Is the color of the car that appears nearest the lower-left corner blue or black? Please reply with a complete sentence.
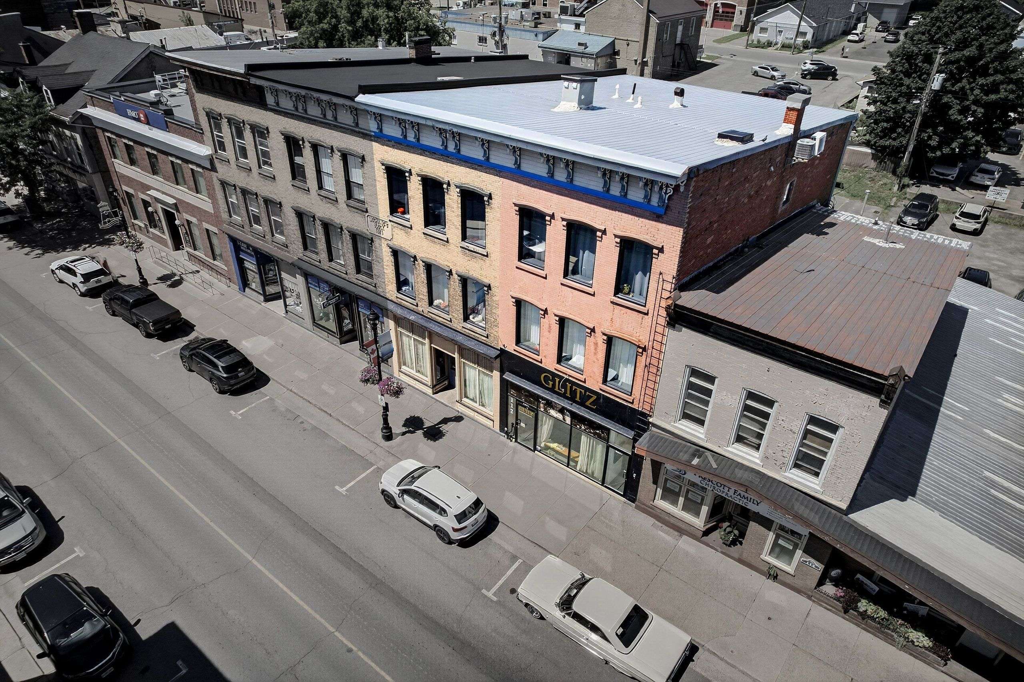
In this view, the car that appears nearest the lower-left corner is black.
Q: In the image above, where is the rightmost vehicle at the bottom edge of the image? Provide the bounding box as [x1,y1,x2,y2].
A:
[517,555,695,682]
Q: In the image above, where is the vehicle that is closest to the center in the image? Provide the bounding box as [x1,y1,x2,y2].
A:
[379,460,489,545]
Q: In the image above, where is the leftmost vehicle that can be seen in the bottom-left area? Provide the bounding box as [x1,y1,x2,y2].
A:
[0,473,53,570]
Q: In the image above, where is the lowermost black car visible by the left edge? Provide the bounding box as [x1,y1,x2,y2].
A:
[10,565,142,682]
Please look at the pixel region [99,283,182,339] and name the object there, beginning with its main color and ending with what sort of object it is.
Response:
black truck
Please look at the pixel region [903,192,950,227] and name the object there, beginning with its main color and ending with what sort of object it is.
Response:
black car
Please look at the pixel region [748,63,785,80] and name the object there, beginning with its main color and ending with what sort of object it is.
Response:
gray car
